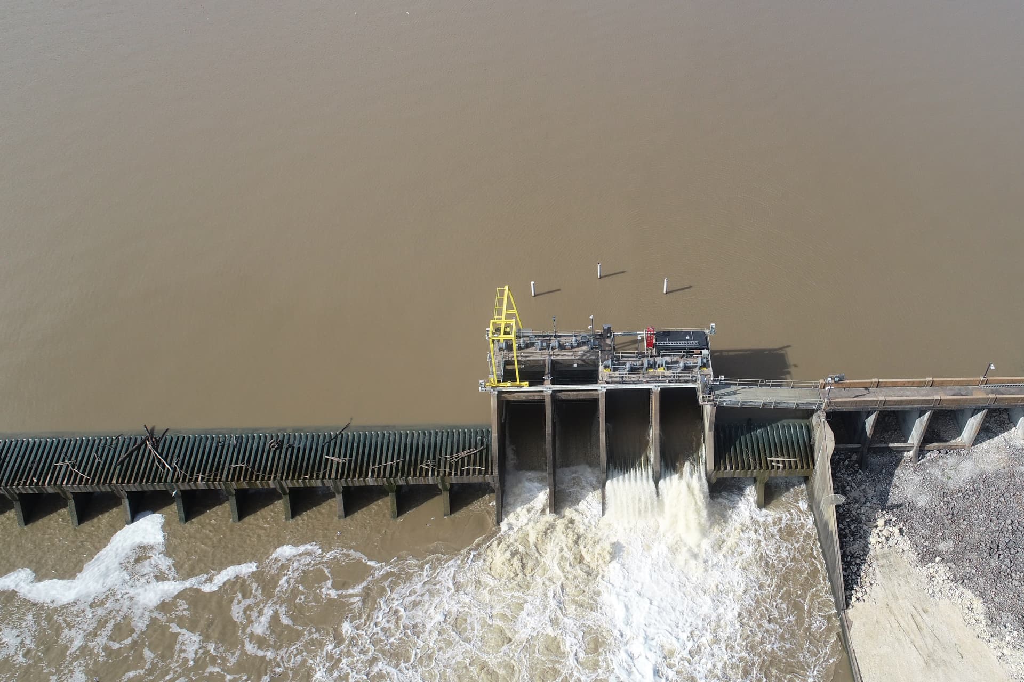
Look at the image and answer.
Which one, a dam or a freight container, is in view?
dam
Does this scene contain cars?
No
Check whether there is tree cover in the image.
No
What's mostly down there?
water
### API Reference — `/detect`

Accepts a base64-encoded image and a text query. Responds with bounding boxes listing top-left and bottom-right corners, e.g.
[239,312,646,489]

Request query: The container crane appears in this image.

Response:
[483,286,529,389]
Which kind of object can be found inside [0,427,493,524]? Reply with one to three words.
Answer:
dam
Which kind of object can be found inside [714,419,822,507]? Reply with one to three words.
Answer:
dam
